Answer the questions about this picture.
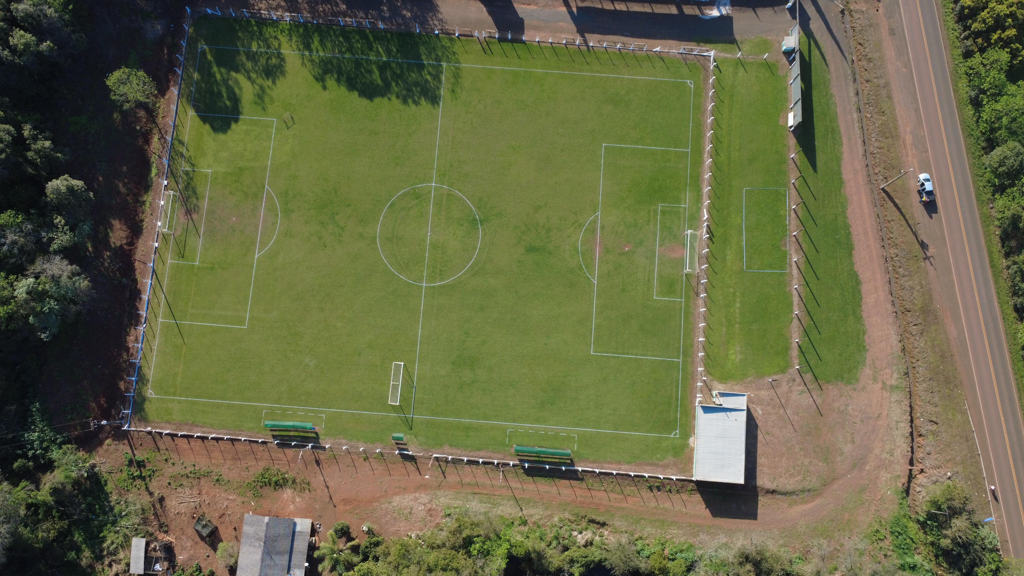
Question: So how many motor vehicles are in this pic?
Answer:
1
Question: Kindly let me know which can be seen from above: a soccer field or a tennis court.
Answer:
soccer field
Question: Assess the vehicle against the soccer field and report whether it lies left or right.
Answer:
on its right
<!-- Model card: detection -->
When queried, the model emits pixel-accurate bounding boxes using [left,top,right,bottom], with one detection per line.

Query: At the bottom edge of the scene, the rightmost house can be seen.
[237,514,312,576]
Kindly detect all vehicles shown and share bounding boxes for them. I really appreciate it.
[916,174,936,202]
